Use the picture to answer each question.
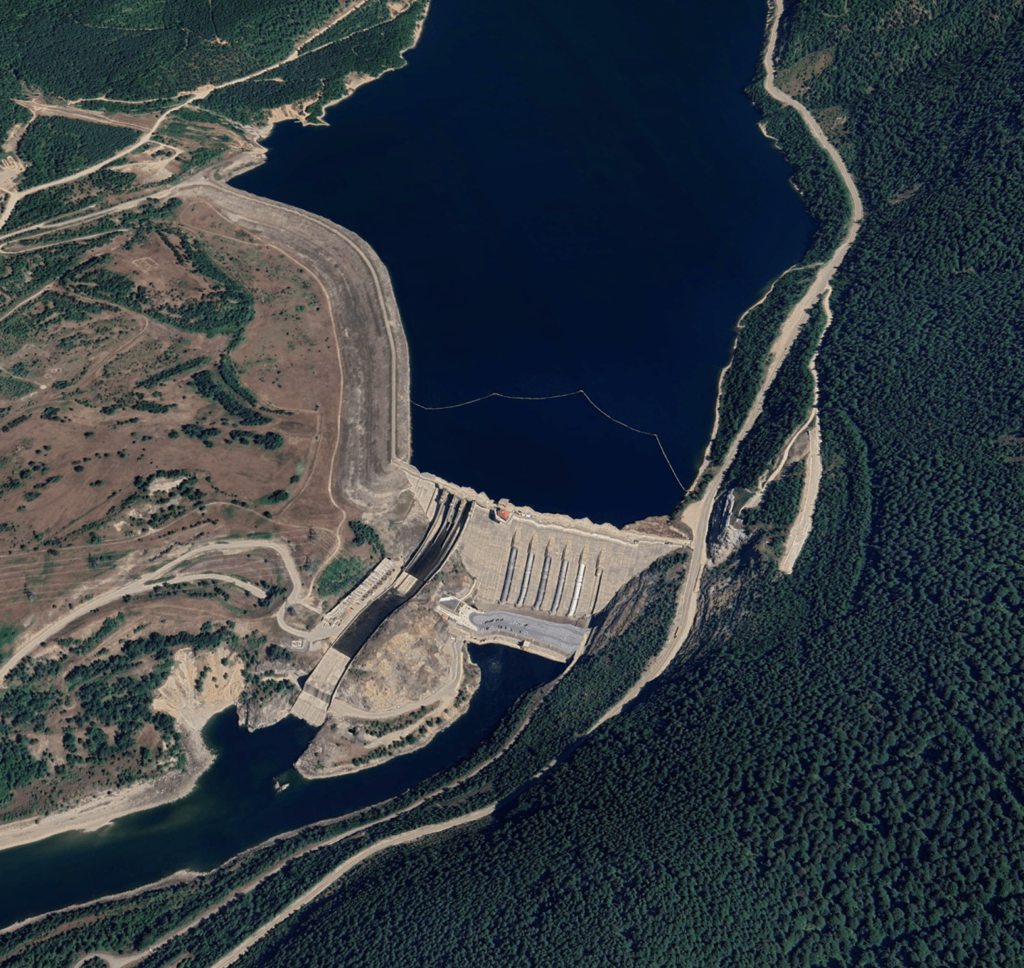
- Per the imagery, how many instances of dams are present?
2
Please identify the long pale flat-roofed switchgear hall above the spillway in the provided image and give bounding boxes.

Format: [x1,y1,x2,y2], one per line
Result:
[325,557,393,625]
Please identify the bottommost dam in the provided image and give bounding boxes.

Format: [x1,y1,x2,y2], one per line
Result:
[393,459,692,629]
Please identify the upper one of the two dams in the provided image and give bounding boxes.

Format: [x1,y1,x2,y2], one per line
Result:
[193,177,411,510]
